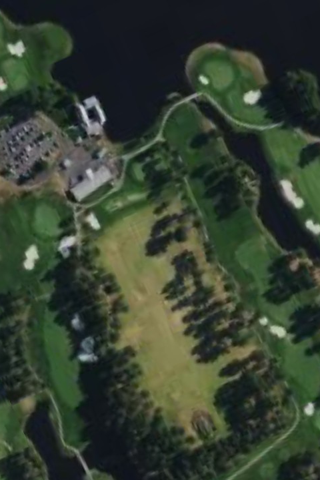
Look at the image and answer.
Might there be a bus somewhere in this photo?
No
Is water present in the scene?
Yes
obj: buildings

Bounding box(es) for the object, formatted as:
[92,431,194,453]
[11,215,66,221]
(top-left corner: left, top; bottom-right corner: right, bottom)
[66,161,114,200]
[76,95,104,134]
